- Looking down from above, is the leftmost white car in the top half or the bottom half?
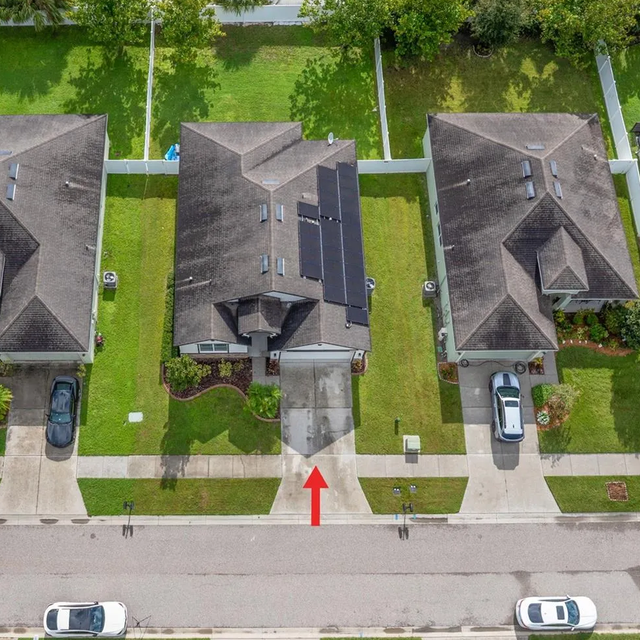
bottom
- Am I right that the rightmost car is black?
No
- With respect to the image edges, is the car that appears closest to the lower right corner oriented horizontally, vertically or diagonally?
horizontally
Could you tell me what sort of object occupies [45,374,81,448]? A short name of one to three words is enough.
car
